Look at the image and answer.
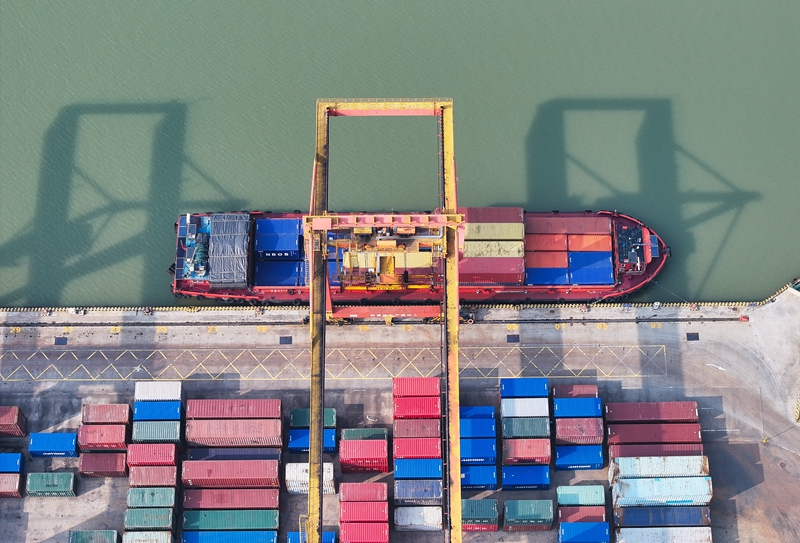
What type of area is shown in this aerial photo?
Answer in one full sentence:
This image shows a port.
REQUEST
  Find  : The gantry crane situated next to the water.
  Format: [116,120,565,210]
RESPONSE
[300,97,473,543]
